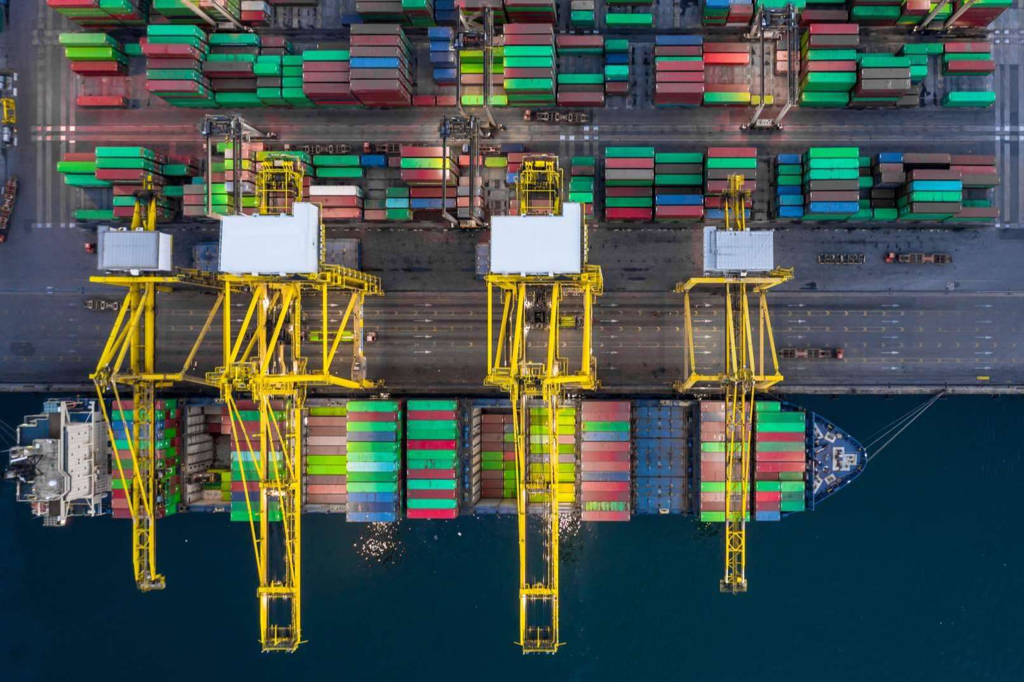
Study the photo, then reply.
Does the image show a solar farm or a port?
port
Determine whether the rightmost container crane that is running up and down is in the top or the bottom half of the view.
top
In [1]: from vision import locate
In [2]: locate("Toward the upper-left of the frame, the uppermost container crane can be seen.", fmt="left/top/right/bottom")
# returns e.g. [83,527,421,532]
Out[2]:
[181,0,253,28]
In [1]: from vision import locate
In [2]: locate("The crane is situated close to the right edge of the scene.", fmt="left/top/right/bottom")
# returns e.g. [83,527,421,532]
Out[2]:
[910,0,976,28]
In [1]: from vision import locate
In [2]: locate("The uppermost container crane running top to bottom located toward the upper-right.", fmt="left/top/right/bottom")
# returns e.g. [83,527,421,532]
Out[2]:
[741,6,801,130]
